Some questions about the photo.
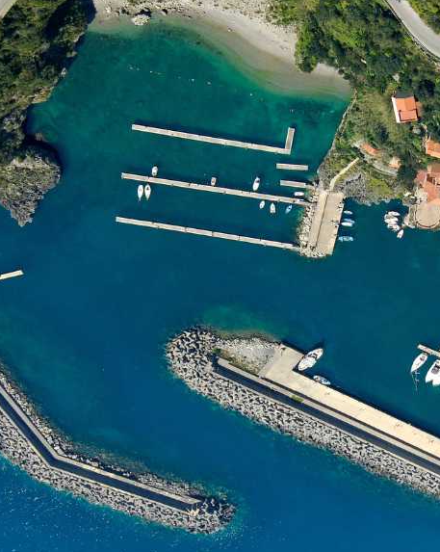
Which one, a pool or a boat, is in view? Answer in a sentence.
I can see a boat in this picture.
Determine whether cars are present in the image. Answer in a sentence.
No, there isn't any car down there.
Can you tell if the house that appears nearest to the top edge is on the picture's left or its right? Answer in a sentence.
You can find the house that appears nearest to the top edge on the right side of the picture.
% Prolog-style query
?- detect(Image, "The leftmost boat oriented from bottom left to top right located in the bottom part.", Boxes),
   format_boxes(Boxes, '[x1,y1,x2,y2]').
[297,349,322,374]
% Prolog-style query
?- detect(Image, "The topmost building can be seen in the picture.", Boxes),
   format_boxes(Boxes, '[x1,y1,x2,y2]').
[397,96,417,123]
